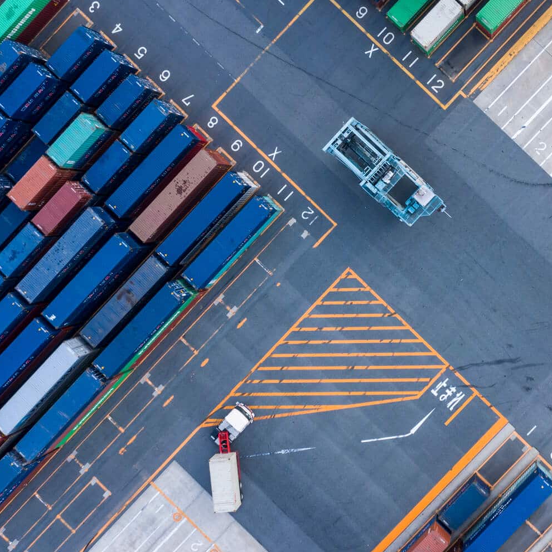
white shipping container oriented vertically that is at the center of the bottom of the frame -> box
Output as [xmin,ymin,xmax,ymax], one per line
[209,453,241,514]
